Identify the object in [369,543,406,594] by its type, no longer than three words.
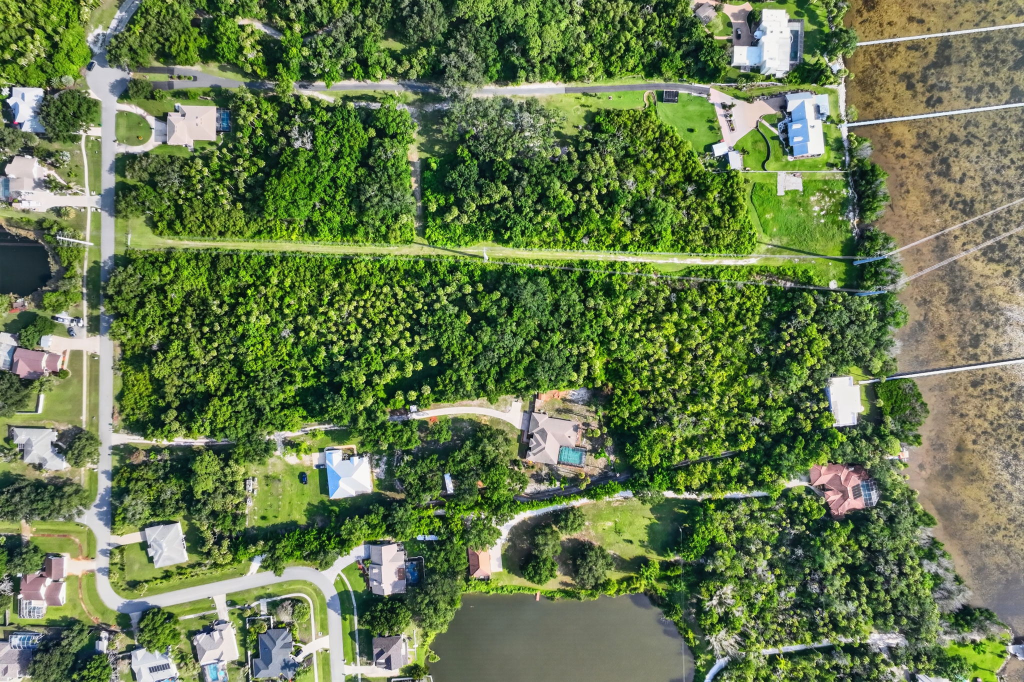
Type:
house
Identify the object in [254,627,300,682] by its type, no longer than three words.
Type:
house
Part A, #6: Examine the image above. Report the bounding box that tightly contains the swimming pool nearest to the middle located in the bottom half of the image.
[559,447,583,463]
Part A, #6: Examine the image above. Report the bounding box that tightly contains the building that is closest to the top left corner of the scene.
[7,87,48,133]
